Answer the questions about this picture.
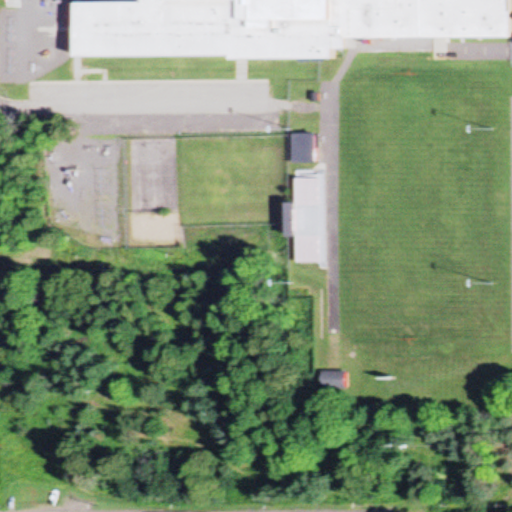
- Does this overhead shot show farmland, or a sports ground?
sports ground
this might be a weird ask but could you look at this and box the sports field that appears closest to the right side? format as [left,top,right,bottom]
[338,60,512,408]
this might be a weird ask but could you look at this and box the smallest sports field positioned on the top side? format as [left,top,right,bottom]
[184,138,284,224]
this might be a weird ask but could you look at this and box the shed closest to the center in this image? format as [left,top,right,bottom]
[290,134,316,162]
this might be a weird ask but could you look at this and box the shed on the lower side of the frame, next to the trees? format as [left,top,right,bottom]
[319,371,347,388]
